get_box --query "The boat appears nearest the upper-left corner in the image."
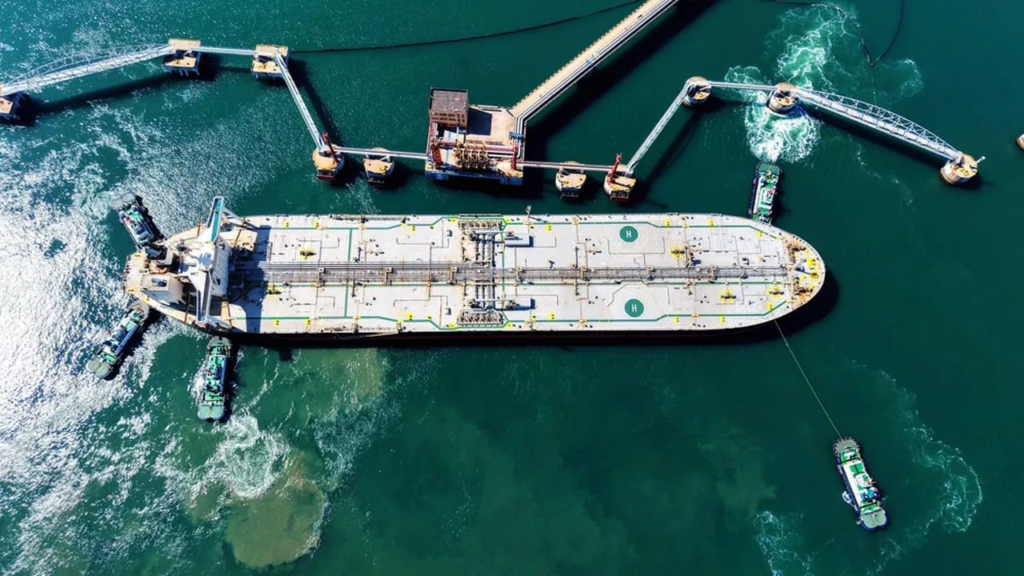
[111,189,164,247]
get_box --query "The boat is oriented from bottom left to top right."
[88,304,147,378]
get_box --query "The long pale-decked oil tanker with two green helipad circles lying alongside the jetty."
[120,195,828,340]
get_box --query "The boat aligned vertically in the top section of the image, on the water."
[747,162,781,225]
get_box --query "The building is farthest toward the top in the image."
[430,90,470,127]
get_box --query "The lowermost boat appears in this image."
[832,435,889,532]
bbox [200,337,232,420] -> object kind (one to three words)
boat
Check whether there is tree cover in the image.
No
